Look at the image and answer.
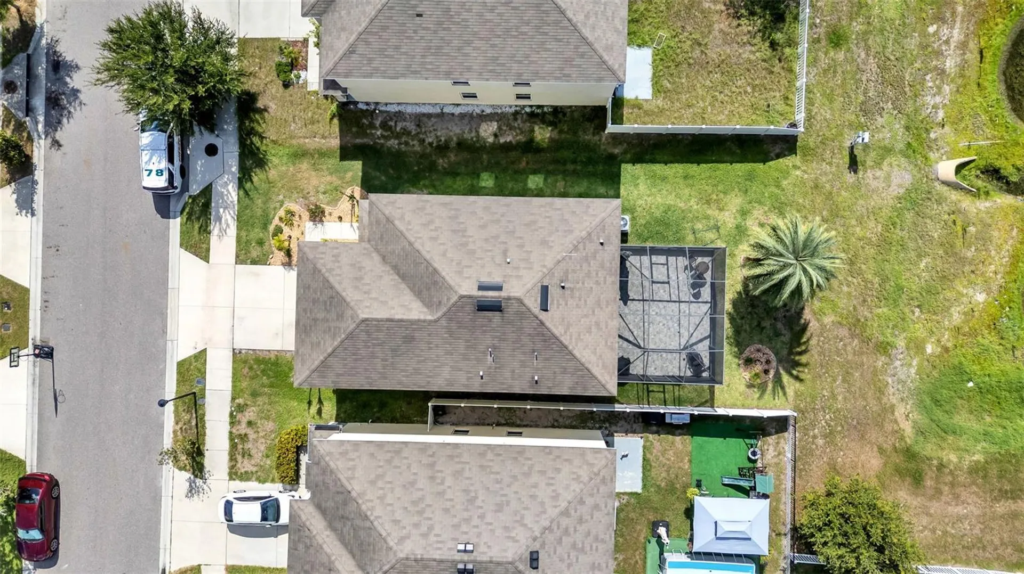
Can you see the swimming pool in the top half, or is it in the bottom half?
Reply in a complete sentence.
You can find the swimming pool in the bottom half.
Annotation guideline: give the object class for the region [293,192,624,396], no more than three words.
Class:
house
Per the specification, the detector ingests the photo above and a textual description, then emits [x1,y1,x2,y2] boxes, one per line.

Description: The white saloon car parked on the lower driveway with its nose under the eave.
[218,487,303,529]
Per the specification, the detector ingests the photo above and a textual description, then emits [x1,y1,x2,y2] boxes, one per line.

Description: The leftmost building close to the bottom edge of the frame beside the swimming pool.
[287,414,618,574]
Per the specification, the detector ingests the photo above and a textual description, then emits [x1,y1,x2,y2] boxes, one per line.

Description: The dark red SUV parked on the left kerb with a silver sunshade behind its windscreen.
[15,473,64,561]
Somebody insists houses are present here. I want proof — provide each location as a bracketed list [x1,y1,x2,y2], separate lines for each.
[299,0,624,112]
[287,414,618,574]
[293,192,624,396]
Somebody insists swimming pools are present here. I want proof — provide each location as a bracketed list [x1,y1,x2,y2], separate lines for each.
[656,543,756,574]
